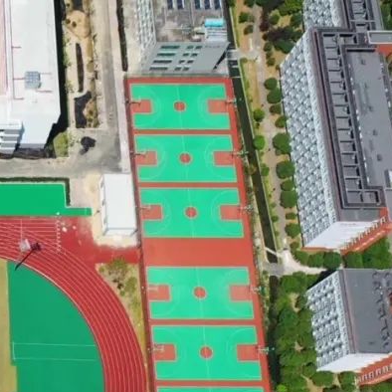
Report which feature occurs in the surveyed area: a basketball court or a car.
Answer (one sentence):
The image shows a basketball court.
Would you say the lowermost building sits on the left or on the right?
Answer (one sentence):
The lowermost building is on the right side of the image.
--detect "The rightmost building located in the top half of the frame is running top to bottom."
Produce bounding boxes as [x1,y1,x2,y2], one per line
[281,0,392,251]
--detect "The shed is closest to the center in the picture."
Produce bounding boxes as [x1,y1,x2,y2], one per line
[100,171,143,234]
